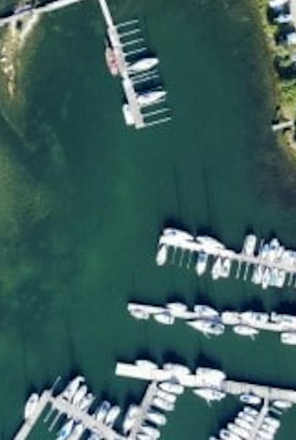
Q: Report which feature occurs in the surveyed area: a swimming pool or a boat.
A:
boat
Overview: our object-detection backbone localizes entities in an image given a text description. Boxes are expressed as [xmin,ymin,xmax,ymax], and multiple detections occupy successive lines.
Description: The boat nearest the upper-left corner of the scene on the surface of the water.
[106,49,119,78]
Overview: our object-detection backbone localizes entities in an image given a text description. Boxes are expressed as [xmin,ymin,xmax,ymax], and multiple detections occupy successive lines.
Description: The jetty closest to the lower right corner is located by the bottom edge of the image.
[248,396,270,440]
